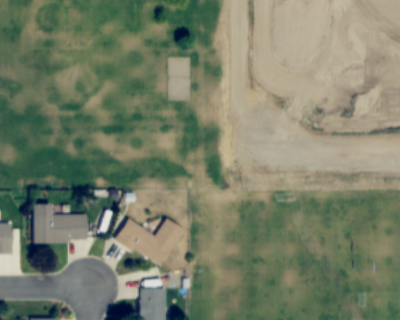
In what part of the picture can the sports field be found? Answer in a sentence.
The sports field sits in the bottom right section of the image.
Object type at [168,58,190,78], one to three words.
sports court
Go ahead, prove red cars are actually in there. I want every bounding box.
[70,243,75,254]
[126,282,138,288]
